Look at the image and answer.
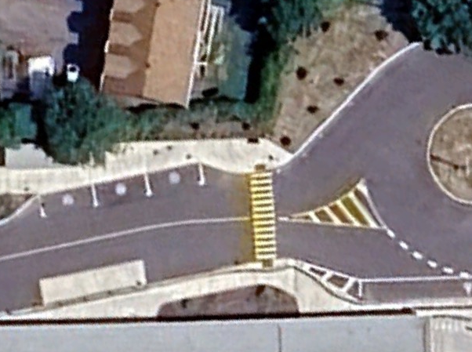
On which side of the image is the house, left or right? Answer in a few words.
left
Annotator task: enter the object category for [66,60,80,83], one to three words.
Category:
vehicle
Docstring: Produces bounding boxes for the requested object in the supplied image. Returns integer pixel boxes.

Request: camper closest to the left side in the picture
[27,47,55,92]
